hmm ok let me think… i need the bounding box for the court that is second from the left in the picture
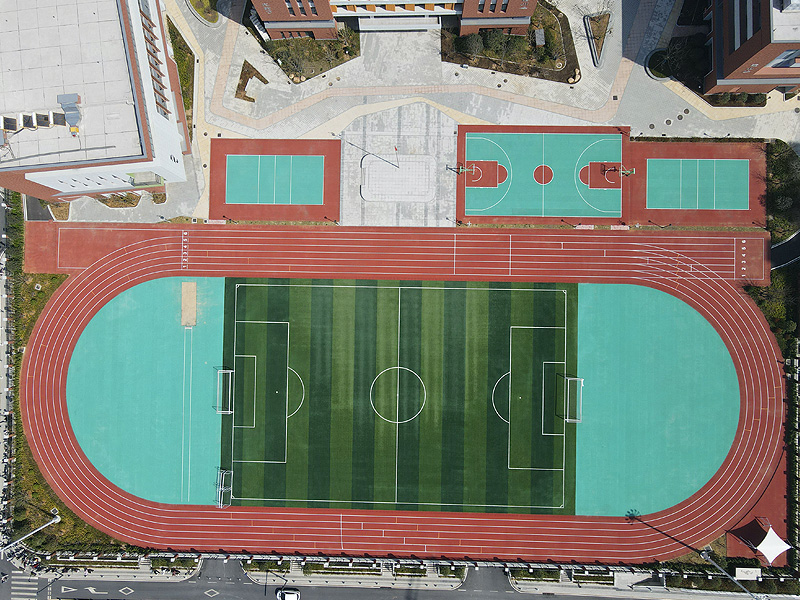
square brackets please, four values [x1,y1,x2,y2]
[456,126,630,226]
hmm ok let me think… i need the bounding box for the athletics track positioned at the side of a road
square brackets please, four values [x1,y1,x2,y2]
[20,222,788,566]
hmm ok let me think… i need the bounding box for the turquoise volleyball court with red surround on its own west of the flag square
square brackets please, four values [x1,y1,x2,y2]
[209,139,341,221]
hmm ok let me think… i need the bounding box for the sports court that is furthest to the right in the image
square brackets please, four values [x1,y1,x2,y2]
[630,141,766,228]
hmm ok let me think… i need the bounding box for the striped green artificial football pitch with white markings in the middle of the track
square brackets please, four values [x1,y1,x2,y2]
[220,278,577,515]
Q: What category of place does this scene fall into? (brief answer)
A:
sports ground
